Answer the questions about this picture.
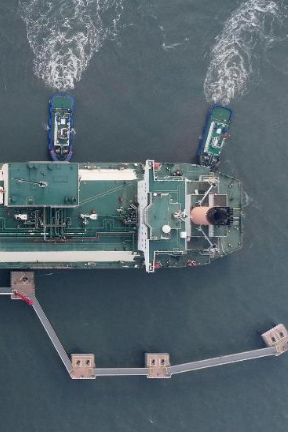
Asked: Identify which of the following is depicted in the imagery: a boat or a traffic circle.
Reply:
boat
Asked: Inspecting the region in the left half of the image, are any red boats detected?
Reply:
No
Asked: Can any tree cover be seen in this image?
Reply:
No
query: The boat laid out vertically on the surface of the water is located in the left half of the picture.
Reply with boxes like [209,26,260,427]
[48,92,74,161]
